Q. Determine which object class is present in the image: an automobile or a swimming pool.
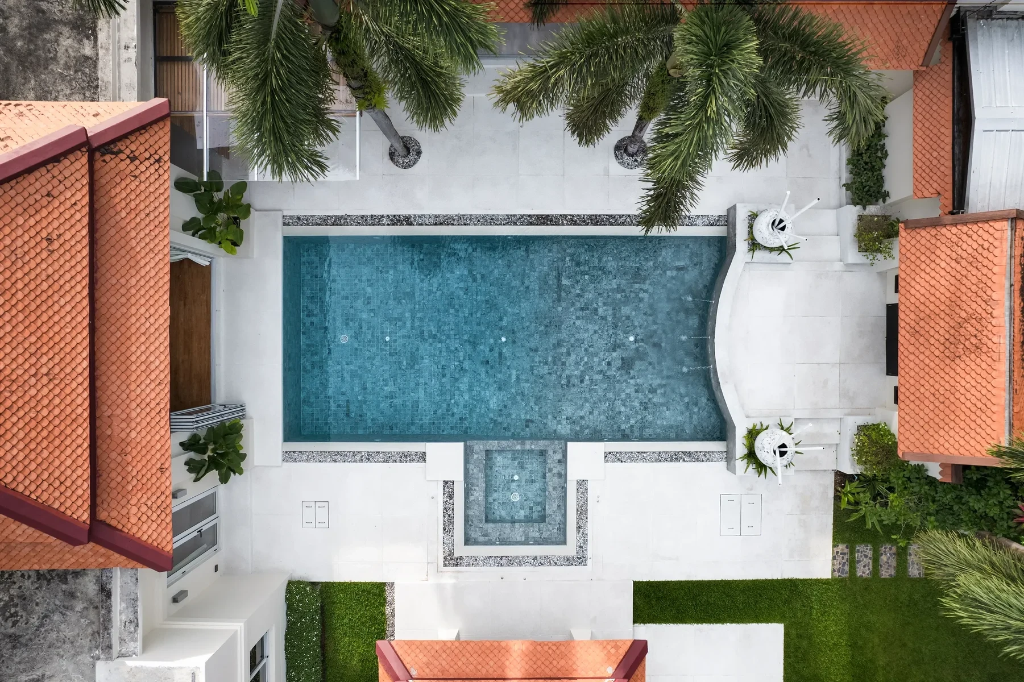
swimming pool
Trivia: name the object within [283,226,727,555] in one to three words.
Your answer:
swimming pool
